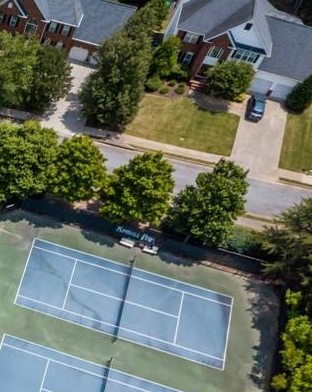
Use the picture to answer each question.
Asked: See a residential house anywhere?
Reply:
Yes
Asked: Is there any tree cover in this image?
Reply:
Yes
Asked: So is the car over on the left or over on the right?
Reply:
right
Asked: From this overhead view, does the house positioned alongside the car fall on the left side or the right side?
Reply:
right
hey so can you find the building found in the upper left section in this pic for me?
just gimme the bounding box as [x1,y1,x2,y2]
[0,0,112,56]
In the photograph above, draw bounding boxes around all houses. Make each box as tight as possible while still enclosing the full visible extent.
[0,0,112,56]
[168,0,312,99]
